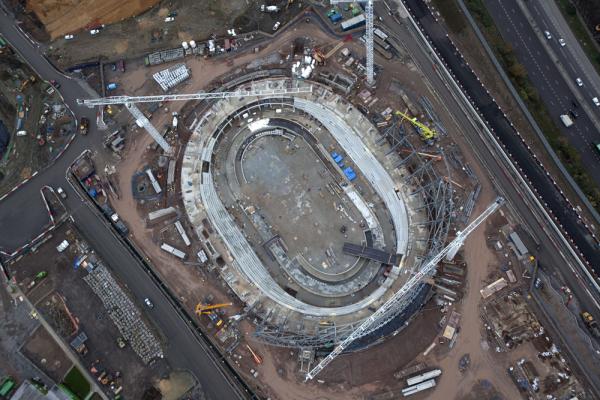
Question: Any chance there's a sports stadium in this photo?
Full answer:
Yes, I can see a sports stadium in this picture.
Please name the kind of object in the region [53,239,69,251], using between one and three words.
vehicle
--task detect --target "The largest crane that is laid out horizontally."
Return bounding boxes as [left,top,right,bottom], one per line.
[77,88,313,158]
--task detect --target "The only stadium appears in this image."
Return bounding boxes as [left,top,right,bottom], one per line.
[181,60,458,360]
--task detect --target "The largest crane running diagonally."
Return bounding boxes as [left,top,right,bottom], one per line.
[304,196,506,380]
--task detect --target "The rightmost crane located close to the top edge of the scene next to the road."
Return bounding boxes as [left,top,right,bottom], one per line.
[330,0,383,93]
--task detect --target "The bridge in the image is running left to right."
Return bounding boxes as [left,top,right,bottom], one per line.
[342,242,401,267]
